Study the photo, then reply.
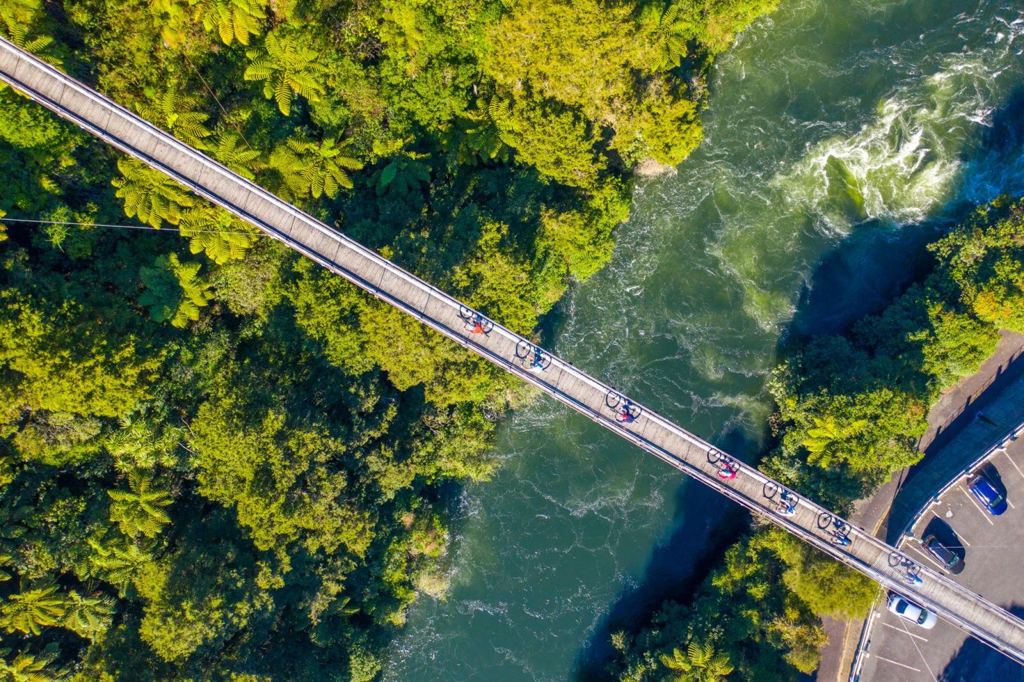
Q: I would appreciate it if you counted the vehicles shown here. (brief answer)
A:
3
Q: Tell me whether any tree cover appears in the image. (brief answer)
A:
Yes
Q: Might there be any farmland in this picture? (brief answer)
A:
No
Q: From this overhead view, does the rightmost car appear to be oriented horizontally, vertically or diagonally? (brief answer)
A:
diagonally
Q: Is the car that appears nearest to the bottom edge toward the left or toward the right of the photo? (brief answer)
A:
right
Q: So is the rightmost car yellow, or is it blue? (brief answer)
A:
blue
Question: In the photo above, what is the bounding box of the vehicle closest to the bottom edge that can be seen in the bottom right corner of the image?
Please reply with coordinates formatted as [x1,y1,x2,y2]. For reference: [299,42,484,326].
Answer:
[884,592,936,630]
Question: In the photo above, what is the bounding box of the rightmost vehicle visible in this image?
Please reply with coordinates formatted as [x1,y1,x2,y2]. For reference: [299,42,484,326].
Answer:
[965,473,1005,516]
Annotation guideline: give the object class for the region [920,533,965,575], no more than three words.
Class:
car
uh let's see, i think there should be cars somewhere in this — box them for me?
[920,533,965,575]
[884,592,936,630]
[965,473,1005,516]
